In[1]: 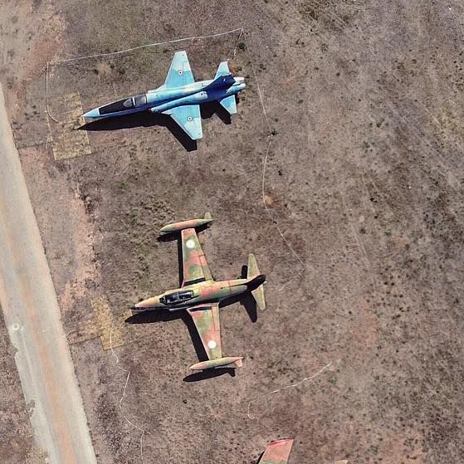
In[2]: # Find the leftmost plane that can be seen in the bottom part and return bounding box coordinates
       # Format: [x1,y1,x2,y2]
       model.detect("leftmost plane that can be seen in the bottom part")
[134,210,269,369]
